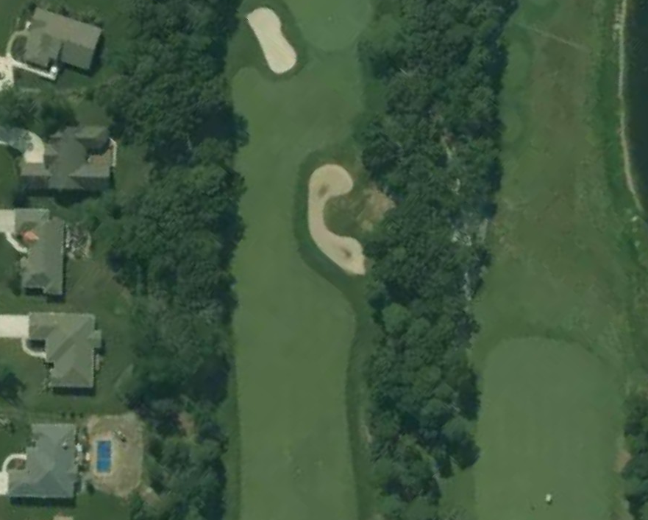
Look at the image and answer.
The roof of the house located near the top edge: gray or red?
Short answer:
gray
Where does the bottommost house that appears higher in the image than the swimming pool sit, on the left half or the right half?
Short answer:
left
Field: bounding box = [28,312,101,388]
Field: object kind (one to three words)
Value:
house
